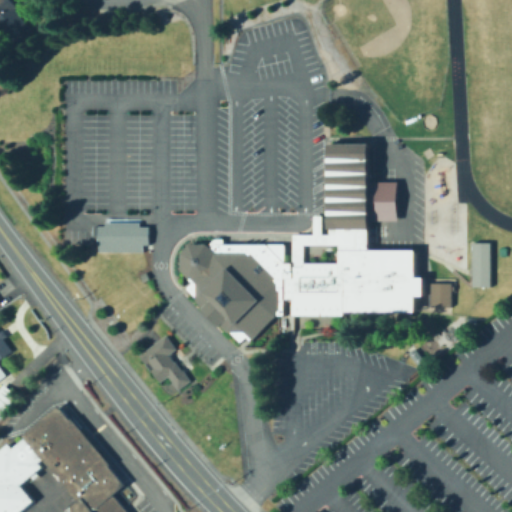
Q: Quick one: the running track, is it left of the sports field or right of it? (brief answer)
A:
to the right of it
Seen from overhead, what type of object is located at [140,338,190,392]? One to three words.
house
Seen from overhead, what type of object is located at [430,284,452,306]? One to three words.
shed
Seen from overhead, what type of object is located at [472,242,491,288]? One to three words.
shed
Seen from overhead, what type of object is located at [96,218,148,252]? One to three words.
building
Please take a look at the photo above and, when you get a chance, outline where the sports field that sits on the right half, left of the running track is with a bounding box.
[361,0,412,58]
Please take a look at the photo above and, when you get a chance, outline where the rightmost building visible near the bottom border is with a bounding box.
[20,408,128,512]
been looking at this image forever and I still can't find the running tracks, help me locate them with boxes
[450,0,512,231]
